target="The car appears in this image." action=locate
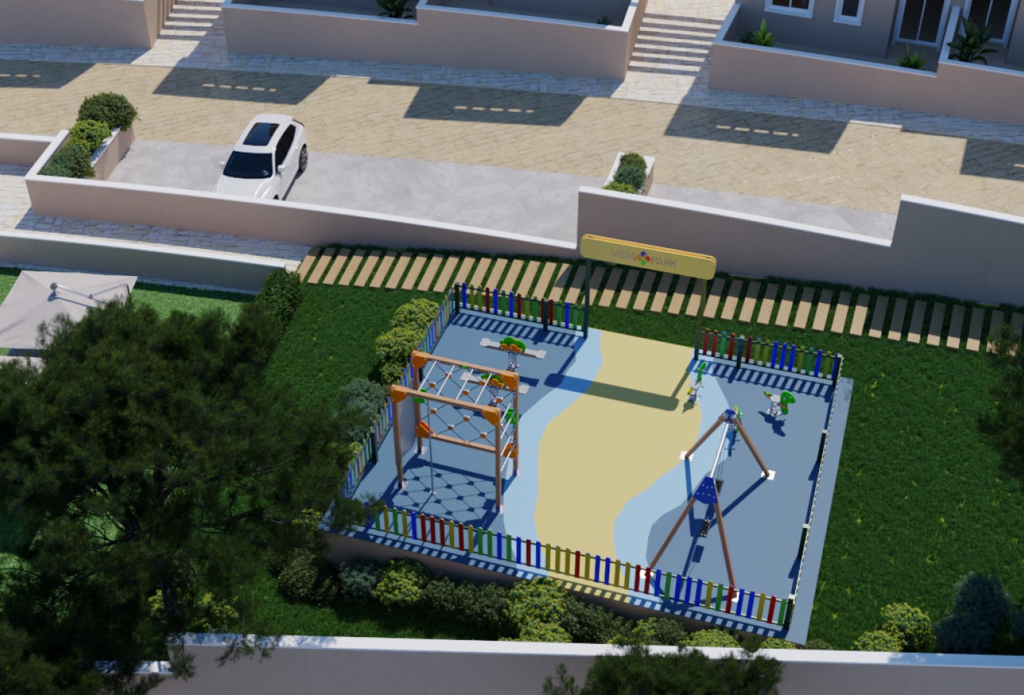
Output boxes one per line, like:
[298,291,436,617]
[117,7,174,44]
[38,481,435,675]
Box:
[211,116,311,206]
